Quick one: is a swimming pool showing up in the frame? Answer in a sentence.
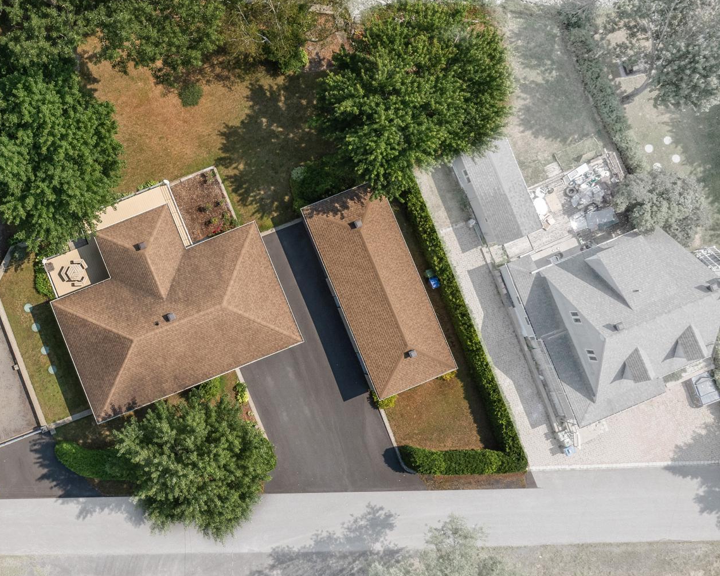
No, I can see no swimming pool in this picture.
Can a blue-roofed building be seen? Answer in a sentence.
No, the frame has no blue-roofed building in it.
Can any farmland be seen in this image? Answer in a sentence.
No, the picture contains no farmland.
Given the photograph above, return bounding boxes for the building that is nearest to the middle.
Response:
[294,181,450,401]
